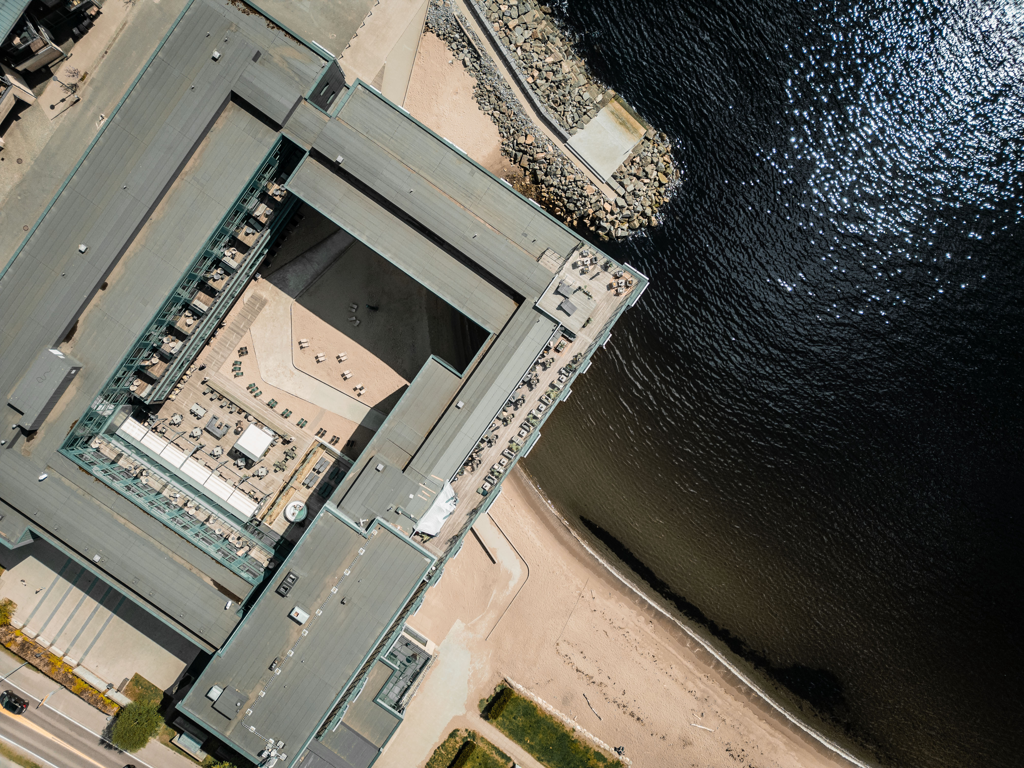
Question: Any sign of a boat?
No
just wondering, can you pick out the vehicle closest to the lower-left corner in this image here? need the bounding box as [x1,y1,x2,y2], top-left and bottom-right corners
[0,688,31,715]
